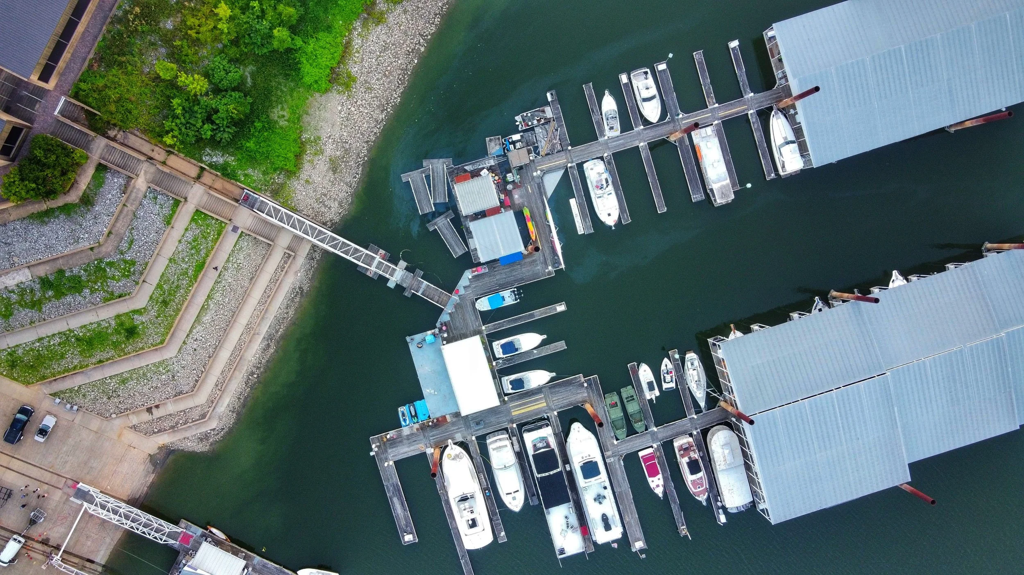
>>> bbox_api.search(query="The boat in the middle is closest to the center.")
[476,286,523,327]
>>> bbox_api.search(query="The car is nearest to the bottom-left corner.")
[0,536,25,569]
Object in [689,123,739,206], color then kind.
white boat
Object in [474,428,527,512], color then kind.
white boat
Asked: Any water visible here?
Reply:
Yes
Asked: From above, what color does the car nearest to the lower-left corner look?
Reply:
white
